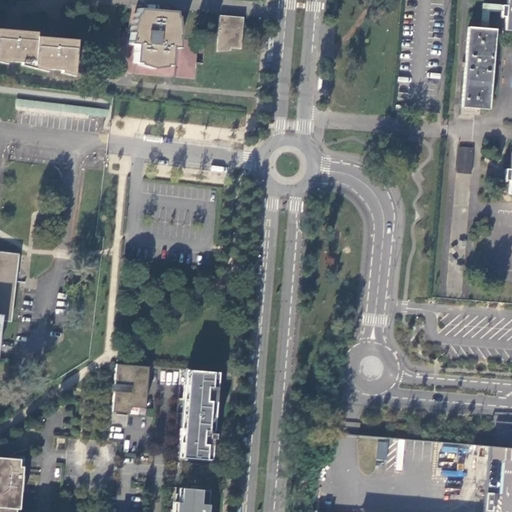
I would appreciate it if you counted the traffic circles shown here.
2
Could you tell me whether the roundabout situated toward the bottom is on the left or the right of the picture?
right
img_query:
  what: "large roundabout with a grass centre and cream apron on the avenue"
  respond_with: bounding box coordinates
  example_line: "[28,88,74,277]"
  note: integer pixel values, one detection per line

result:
[258,135,318,194]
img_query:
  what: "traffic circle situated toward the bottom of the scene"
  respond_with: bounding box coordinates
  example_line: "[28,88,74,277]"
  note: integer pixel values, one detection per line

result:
[342,339,400,399]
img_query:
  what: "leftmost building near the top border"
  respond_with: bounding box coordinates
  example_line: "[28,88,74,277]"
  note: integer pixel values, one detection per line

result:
[0,24,40,68]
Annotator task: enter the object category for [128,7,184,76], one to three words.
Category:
building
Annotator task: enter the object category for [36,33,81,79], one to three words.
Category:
building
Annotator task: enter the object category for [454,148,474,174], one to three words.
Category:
shed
